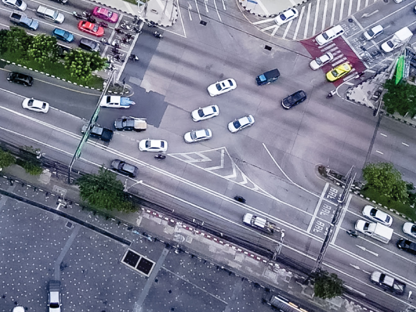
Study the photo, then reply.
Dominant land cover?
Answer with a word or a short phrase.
paved ground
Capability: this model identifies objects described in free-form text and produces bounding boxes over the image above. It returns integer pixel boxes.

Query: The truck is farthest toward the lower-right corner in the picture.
[370,269,413,298]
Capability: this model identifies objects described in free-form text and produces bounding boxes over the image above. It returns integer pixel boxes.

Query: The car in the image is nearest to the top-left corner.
[0,0,29,12]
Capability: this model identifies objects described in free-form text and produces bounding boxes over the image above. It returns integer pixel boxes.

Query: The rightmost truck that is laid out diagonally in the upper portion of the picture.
[380,25,416,53]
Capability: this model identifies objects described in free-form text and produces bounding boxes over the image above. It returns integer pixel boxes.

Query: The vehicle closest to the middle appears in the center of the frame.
[182,128,214,146]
